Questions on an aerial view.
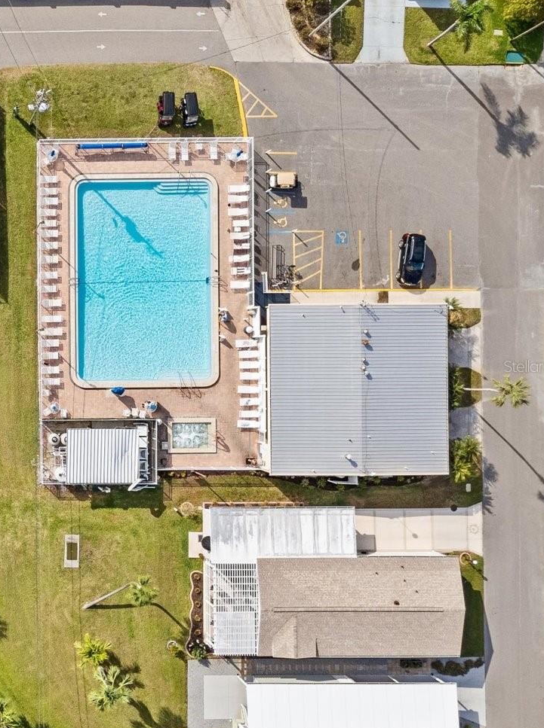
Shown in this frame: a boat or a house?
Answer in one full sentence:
Of the two, only a house appears.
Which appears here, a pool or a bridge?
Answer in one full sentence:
It is a pool that can be seen here.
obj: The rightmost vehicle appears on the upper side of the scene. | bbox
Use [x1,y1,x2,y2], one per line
[400,233,432,287]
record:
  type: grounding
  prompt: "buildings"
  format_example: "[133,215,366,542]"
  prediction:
[228,680,460,728]
[263,300,451,477]
[67,429,139,485]
[205,506,465,659]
